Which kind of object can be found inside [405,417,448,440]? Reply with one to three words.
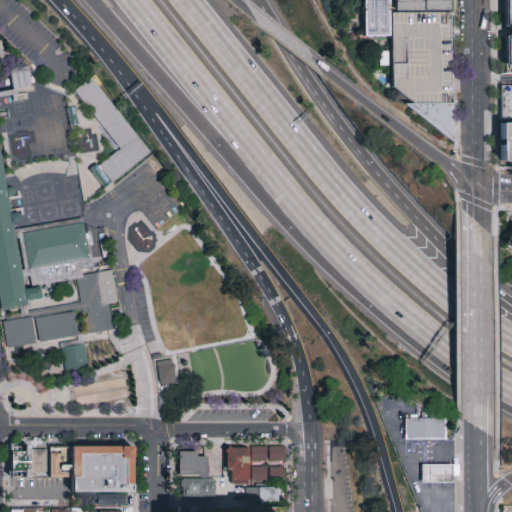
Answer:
building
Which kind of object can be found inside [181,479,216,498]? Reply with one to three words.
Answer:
house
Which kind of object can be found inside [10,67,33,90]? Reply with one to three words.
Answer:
shed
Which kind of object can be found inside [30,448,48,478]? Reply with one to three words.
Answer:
house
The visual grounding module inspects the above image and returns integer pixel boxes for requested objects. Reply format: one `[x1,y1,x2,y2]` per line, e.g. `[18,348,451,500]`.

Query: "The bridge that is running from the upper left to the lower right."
[228,0,457,190]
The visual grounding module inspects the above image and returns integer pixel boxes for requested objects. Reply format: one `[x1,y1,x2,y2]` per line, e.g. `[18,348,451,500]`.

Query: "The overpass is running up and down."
[457,193,500,440]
